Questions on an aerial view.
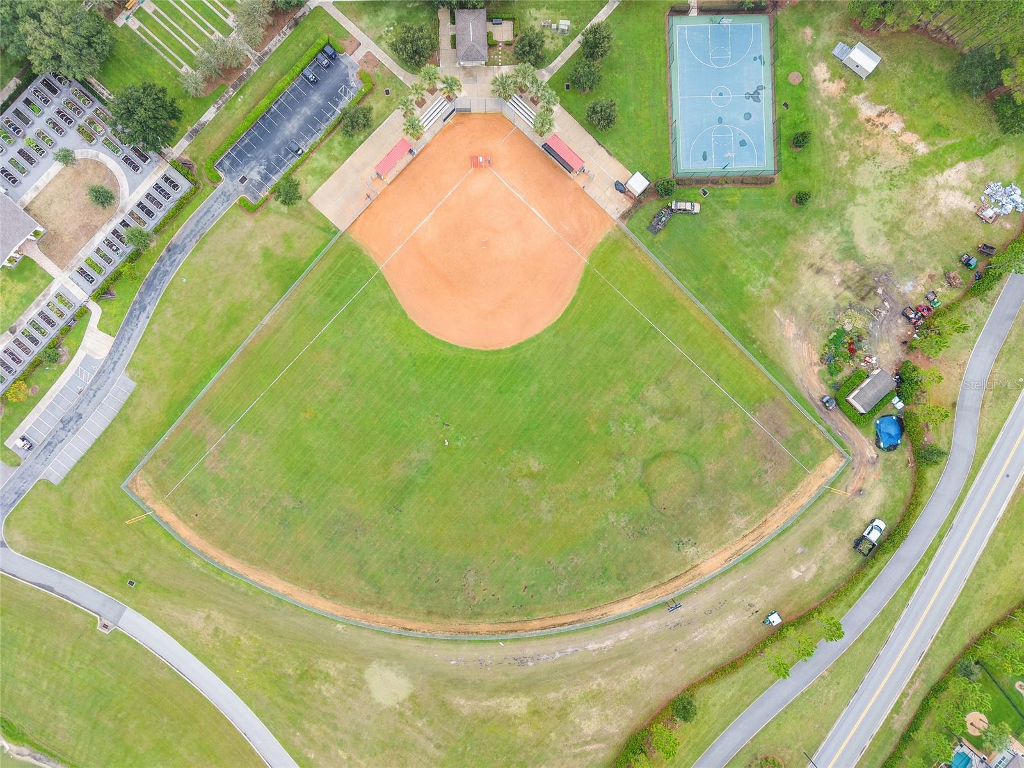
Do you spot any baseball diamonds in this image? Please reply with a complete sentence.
Yes, the photo shows a baseball diamond.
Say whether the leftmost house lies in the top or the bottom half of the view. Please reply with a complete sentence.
It is in the top half that the leftmost house appears.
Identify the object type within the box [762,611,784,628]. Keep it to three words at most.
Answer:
work vehicle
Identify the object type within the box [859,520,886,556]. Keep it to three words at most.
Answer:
truck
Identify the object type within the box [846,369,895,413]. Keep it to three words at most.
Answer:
building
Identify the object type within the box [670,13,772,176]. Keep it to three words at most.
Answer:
basketball court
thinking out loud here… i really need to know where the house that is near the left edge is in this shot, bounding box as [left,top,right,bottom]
[0,192,47,284]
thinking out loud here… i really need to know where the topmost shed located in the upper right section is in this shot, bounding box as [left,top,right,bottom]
[843,42,880,77]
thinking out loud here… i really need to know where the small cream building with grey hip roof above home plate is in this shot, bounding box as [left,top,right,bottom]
[455,8,488,67]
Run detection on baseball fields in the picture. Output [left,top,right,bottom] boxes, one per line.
[130,114,845,636]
